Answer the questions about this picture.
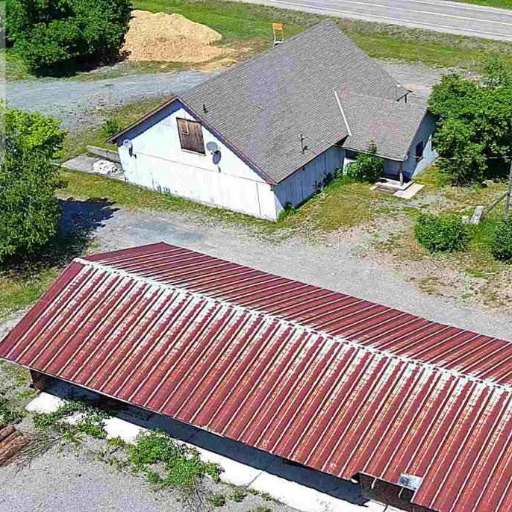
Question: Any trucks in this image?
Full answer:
No, I find no truck anywhere in the image.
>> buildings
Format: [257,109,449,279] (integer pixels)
[0,241,512,512]
[105,20,446,220]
